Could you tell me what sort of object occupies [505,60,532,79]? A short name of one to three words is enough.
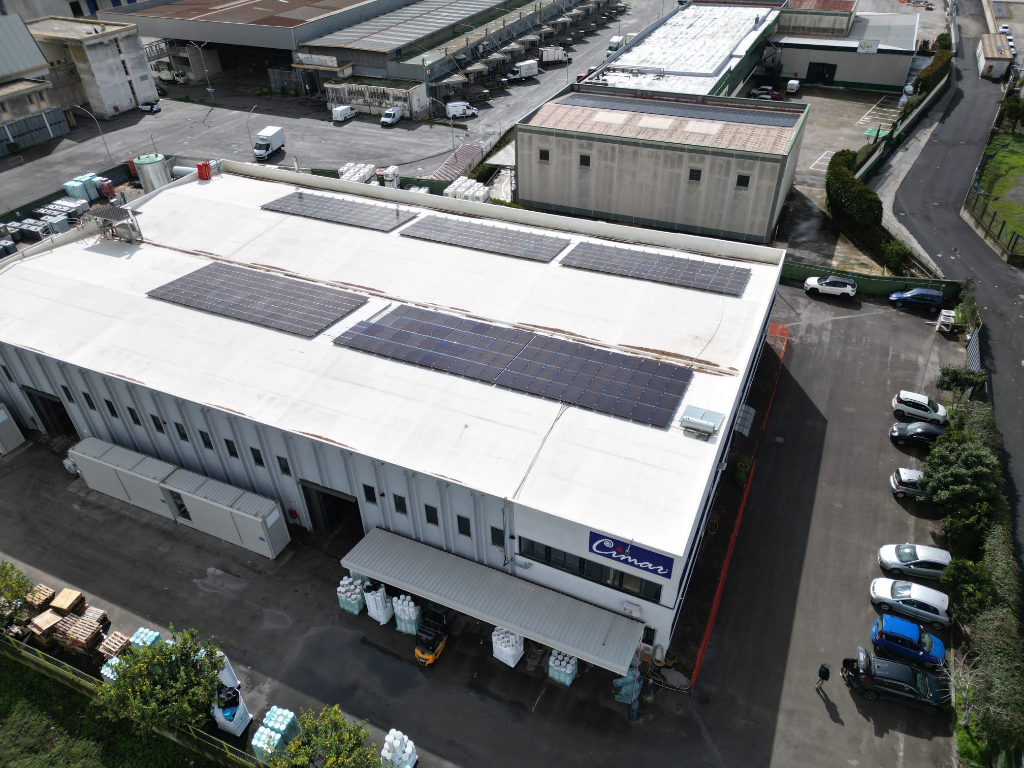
vehicle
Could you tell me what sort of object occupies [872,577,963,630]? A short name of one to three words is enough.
car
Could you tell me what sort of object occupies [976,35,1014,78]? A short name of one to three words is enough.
shed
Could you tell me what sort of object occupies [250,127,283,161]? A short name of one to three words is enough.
truck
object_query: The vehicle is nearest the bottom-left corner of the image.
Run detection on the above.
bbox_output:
[415,613,448,673]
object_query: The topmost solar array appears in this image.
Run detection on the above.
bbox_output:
[559,96,796,127]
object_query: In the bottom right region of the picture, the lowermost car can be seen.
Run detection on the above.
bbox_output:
[840,641,955,717]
